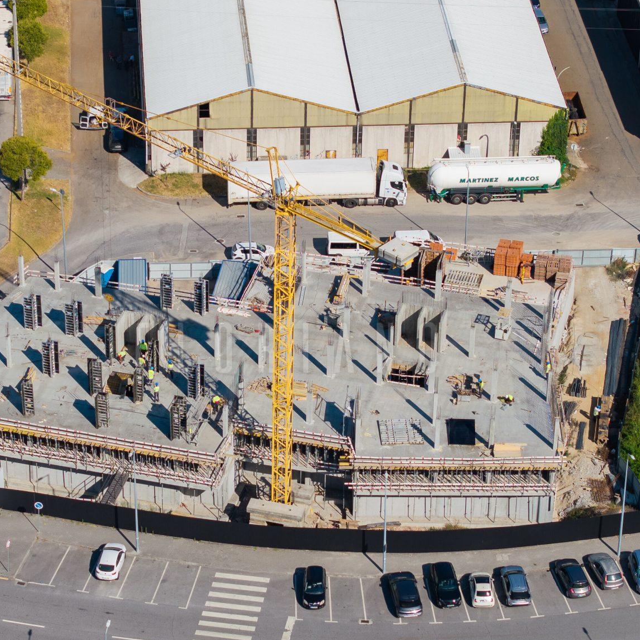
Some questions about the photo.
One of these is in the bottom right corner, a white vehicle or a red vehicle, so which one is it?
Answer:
white vehicle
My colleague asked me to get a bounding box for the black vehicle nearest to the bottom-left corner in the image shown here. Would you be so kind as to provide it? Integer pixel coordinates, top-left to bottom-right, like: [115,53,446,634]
[301,565,328,607]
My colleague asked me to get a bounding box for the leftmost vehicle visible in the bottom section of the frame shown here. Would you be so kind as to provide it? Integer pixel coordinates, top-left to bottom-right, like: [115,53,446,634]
[96,544,127,583]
